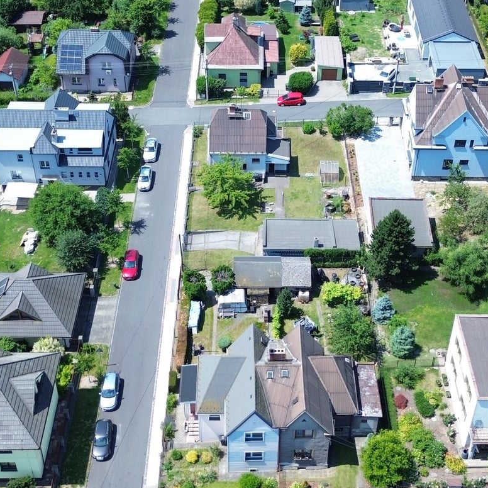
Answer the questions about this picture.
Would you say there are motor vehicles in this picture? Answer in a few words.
Yes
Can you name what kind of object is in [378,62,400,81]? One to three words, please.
car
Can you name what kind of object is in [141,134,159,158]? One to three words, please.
car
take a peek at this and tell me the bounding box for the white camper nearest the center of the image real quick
[217,289,248,317]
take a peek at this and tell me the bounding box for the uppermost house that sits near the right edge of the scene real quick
[410,0,486,78]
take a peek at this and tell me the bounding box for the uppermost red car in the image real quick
[278,92,304,105]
